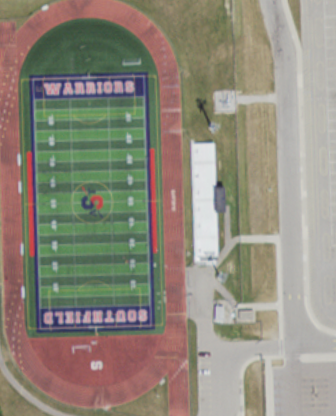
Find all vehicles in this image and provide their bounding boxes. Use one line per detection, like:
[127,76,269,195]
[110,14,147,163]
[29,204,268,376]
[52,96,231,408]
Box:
[198,370,210,375]
[198,352,210,356]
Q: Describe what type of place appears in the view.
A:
sports ground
